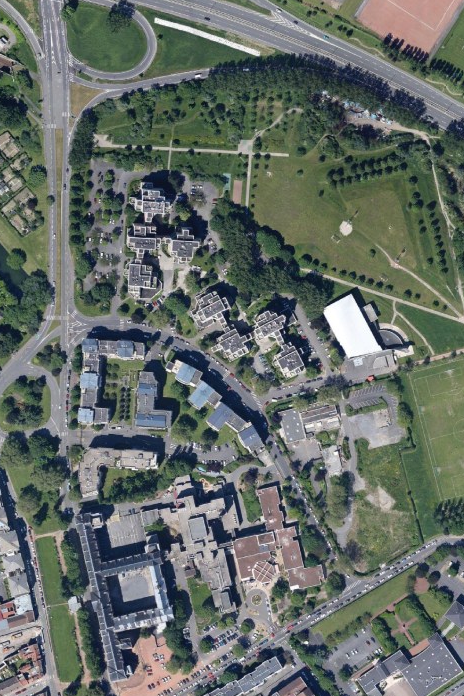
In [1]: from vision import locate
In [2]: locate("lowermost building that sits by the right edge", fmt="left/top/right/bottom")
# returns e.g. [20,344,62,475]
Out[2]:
[357,632,464,696]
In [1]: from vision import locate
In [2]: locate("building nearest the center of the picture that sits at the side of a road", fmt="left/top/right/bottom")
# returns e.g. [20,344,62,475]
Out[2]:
[212,330,253,362]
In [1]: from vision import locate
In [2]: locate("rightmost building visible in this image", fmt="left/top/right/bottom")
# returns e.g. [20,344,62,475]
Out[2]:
[445,601,464,629]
